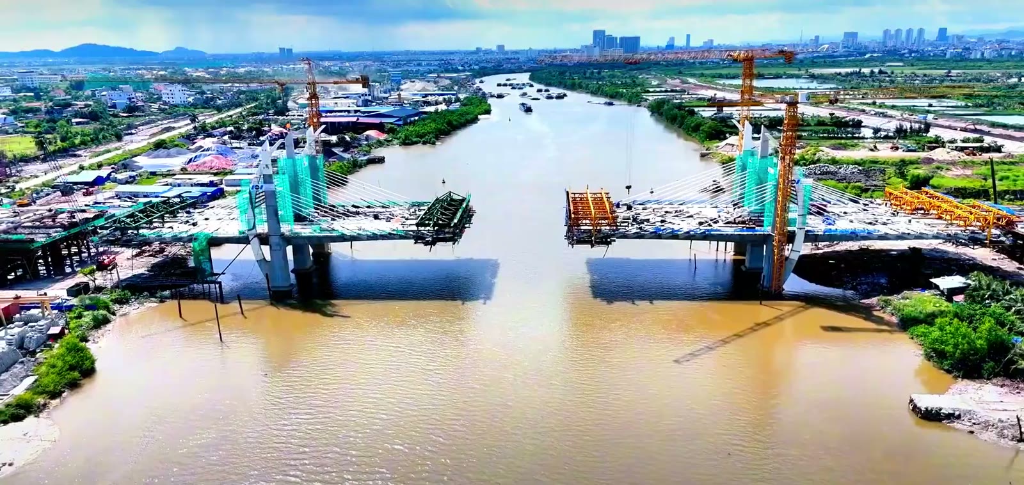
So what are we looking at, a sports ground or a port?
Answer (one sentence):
What you see here is a port.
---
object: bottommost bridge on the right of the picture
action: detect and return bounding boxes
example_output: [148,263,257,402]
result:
[611,119,993,295]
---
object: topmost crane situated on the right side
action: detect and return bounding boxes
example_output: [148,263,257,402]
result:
[547,52,783,193]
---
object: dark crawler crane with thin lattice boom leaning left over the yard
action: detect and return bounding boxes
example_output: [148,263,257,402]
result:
[43,137,76,204]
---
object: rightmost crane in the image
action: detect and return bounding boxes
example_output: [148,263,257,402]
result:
[710,95,966,301]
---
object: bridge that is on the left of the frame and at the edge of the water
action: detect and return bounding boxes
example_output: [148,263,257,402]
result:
[80,124,430,294]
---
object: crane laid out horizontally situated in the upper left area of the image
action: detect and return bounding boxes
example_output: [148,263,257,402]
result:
[51,62,376,150]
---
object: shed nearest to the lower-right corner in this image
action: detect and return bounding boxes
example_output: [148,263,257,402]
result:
[926,274,981,298]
